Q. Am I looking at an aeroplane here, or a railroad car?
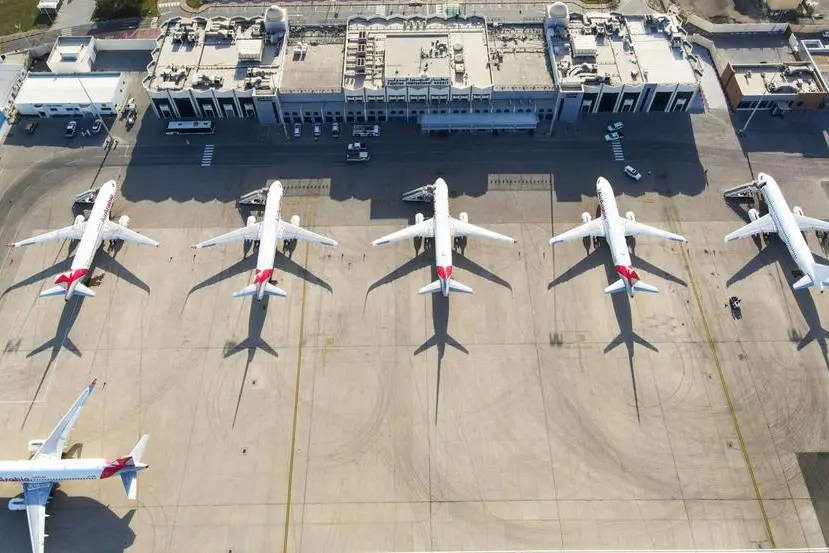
aeroplane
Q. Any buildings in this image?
Yes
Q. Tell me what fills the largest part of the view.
paved ground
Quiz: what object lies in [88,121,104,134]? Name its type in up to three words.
vehicle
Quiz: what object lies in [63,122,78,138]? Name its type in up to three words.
vehicle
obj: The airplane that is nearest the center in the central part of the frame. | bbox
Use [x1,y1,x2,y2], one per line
[373,178,512,297]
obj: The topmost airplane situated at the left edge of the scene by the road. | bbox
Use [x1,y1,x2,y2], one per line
[8,181,160,301]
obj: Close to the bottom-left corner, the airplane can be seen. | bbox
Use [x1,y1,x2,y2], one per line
[0,382,150,553]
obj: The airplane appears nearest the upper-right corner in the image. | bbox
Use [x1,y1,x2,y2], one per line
[725,173,829,290]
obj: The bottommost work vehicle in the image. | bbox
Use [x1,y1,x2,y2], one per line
[729,299,742,316]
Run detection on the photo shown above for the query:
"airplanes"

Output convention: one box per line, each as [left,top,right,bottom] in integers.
[8,181,160,301]
[196,180,337,300]
[373,178,512,297]
[725,173,829,290]
[0,382,150,553]
[549,177,687,296]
